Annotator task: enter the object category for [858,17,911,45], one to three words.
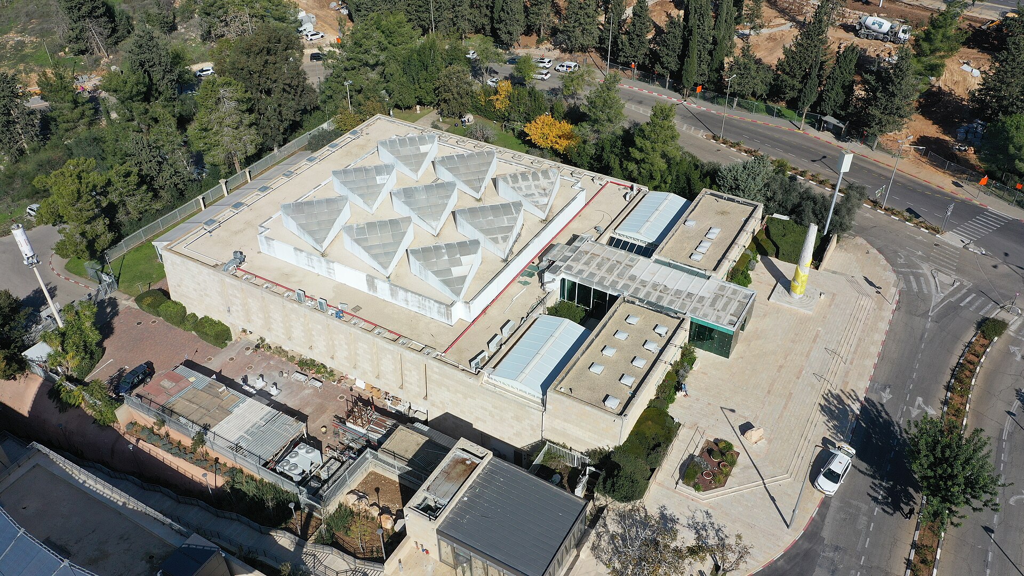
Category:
truck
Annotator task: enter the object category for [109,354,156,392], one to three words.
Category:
car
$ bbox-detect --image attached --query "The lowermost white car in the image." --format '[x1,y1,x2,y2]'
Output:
[817,440,861,495]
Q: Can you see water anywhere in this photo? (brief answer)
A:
No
